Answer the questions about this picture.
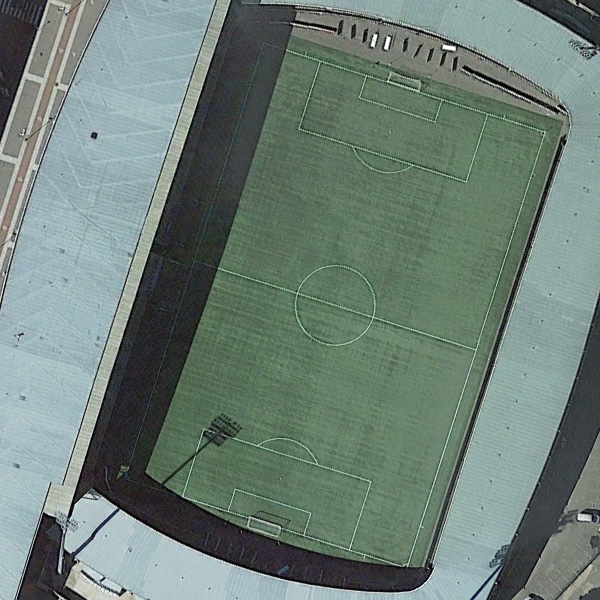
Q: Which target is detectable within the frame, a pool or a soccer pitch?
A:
soccer pitch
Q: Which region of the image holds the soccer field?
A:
center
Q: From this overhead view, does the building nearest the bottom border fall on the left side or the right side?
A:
left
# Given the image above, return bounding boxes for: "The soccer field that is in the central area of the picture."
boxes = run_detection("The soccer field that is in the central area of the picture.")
[100,22,563,576]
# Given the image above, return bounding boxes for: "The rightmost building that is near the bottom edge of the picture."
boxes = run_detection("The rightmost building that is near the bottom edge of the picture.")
[64,561,139,600]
